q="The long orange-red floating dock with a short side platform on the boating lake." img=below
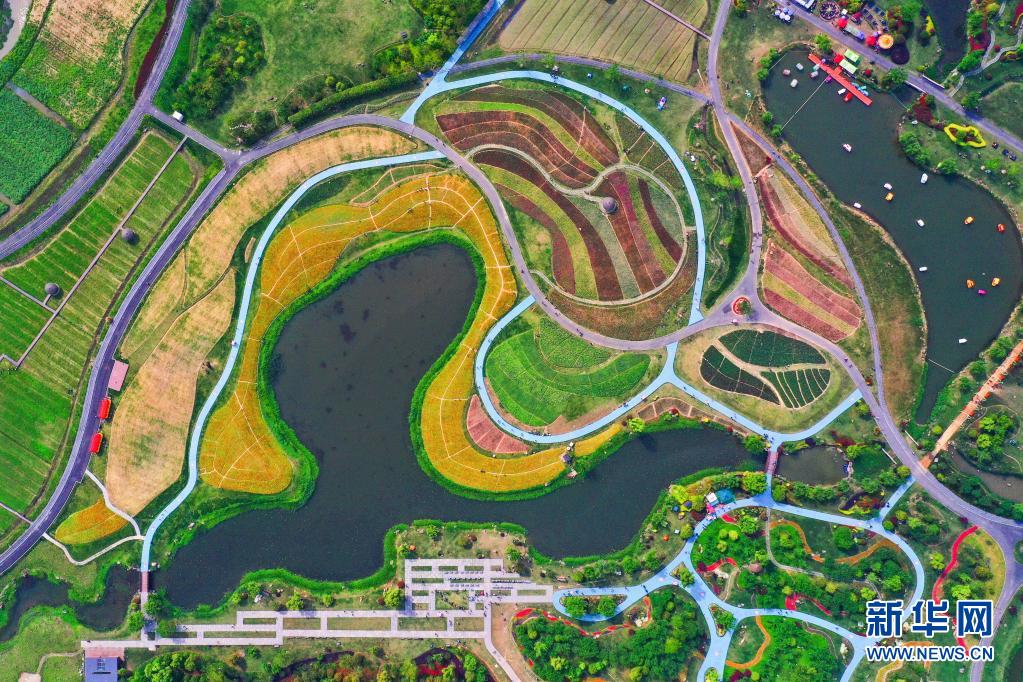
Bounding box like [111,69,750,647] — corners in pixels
[807,54,872,105]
